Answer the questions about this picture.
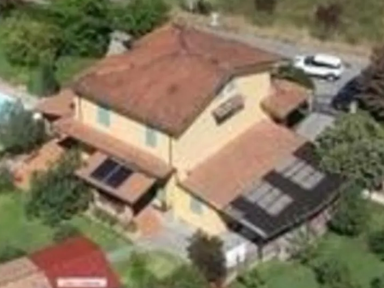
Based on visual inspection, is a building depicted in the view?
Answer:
Yes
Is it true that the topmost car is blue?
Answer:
No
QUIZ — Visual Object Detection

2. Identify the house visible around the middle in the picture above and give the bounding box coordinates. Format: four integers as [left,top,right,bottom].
[34,28,310,239]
